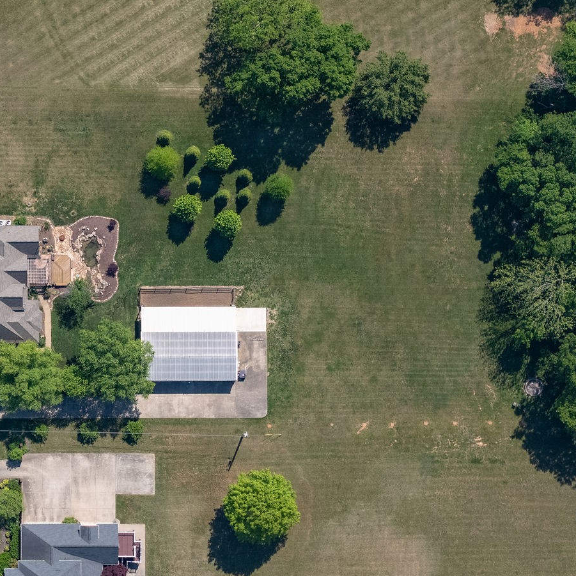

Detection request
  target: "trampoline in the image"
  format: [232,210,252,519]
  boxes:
[523,377,544,396]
